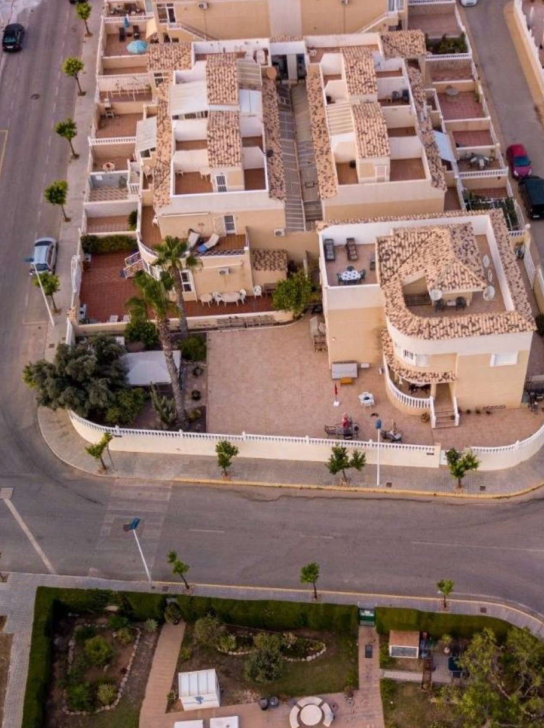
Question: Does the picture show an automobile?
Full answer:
Yes, the image includes an automobile.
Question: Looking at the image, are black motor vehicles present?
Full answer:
Yes, looking at the shot, I can spot a black motor vehicle.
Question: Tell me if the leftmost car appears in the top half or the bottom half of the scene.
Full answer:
The leftmost car sits in the top half of the picture.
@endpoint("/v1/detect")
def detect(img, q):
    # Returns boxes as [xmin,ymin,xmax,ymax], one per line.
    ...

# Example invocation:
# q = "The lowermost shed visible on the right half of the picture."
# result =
[390,632,419,653]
